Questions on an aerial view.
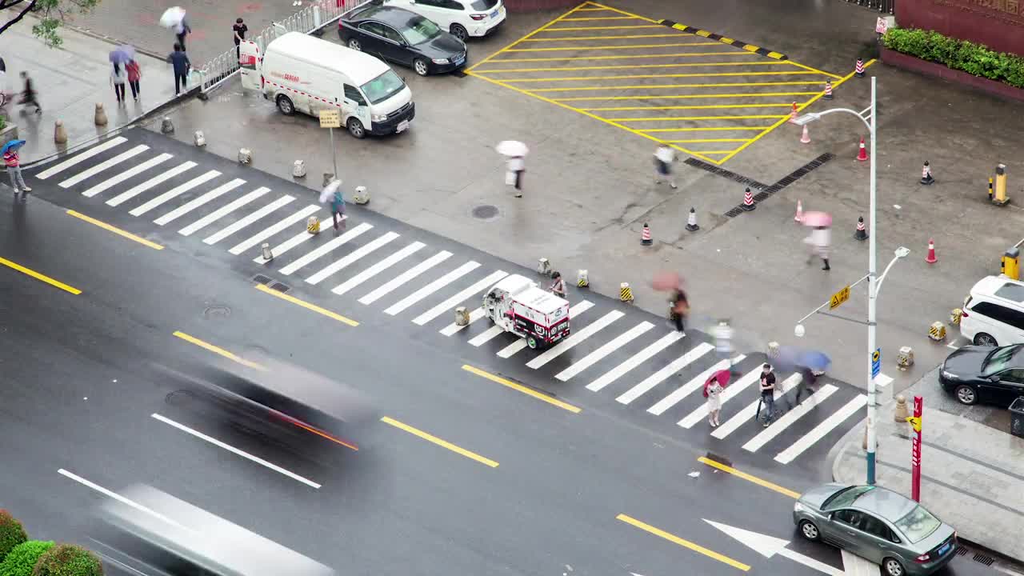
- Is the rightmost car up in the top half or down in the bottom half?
bottom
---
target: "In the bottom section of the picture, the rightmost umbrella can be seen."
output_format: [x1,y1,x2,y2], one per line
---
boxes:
[788,351,832,383]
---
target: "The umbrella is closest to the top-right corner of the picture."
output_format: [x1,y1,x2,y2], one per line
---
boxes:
[795,211,836,240]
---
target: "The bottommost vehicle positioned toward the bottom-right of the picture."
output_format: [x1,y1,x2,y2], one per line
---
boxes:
[786,477,968,576]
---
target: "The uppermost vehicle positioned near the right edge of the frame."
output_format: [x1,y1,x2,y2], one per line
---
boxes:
[942,341,1024,413]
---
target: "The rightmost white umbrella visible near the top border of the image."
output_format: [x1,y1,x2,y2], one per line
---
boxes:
[161,6,189,31]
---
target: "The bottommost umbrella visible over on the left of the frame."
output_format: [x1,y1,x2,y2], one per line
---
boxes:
[321,180,347,206]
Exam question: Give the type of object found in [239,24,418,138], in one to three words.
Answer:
van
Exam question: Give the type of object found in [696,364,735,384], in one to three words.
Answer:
umbrella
